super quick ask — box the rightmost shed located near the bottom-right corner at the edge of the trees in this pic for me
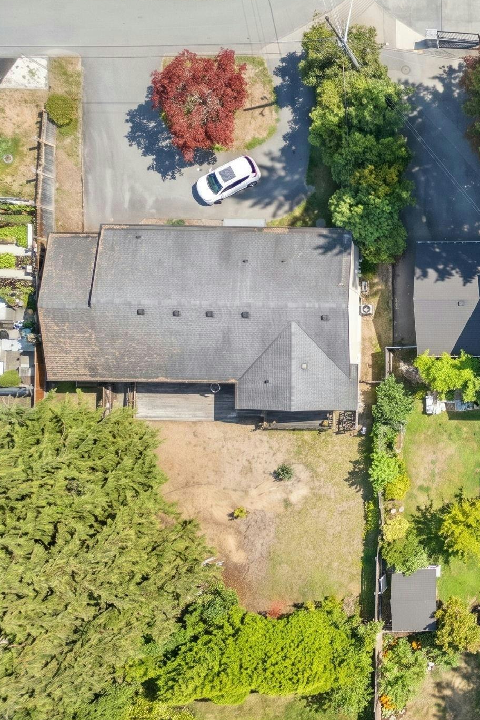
[391,565,440,633]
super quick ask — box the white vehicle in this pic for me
[195,157,257,204]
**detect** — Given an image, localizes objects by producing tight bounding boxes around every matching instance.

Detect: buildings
[391,565,440,633]
[37,225,363,411]
[413,241,480,358]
